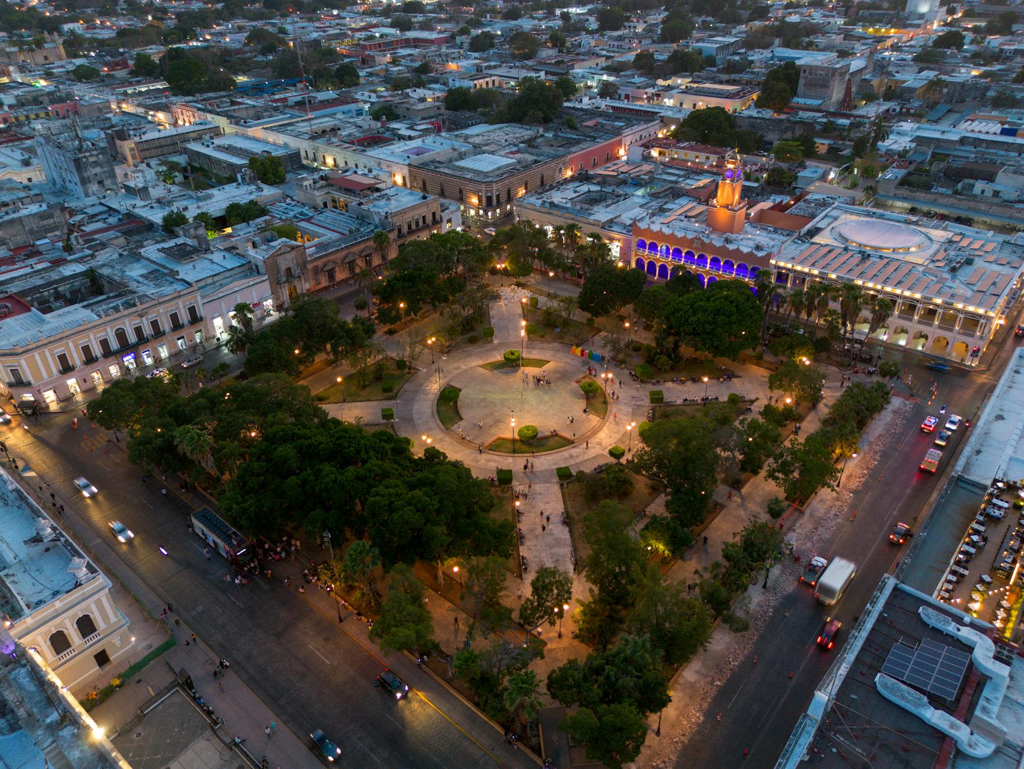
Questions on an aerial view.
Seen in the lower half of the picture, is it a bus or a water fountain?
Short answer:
bus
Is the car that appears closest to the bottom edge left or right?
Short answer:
left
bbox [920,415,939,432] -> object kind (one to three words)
car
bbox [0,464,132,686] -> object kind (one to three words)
building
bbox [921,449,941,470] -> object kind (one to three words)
vehicle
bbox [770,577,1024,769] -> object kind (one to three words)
building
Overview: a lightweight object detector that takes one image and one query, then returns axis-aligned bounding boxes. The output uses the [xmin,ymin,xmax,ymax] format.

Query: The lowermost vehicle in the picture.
[307,725,344,763]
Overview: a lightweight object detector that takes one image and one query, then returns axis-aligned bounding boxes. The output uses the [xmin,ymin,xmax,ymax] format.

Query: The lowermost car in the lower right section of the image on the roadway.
[817,619,842,647]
